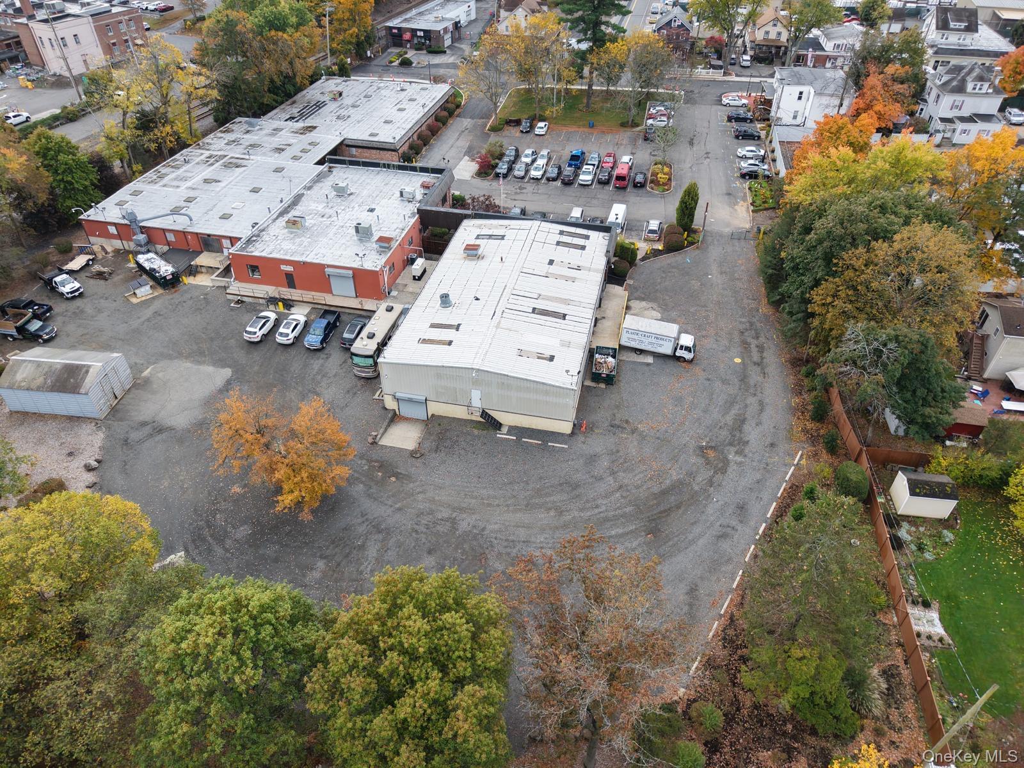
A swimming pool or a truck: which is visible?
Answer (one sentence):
This aerial view contains a truck.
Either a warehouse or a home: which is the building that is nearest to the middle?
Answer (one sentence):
From above, the building that is nearest to the middle can be identified as a warehouse.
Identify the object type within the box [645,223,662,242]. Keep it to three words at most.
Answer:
car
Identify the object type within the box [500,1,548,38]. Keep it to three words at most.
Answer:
house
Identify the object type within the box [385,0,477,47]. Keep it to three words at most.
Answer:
building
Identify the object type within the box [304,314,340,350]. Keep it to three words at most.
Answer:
vehicle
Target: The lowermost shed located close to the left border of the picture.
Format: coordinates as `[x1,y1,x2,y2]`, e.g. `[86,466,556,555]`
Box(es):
[0,352,138,420]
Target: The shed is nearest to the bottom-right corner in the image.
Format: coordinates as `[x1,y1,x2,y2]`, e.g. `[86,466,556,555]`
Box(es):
[889,469,962,519]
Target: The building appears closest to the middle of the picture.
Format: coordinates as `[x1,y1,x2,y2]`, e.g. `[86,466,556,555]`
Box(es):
[376,216,611,444]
